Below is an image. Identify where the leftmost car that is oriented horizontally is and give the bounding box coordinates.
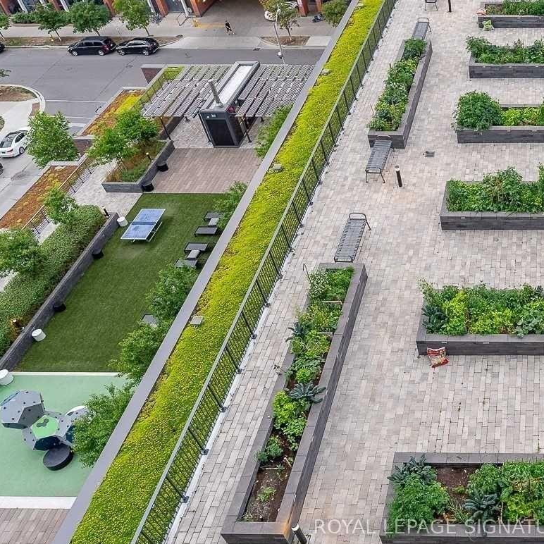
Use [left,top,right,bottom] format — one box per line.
[65,32,120,55]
